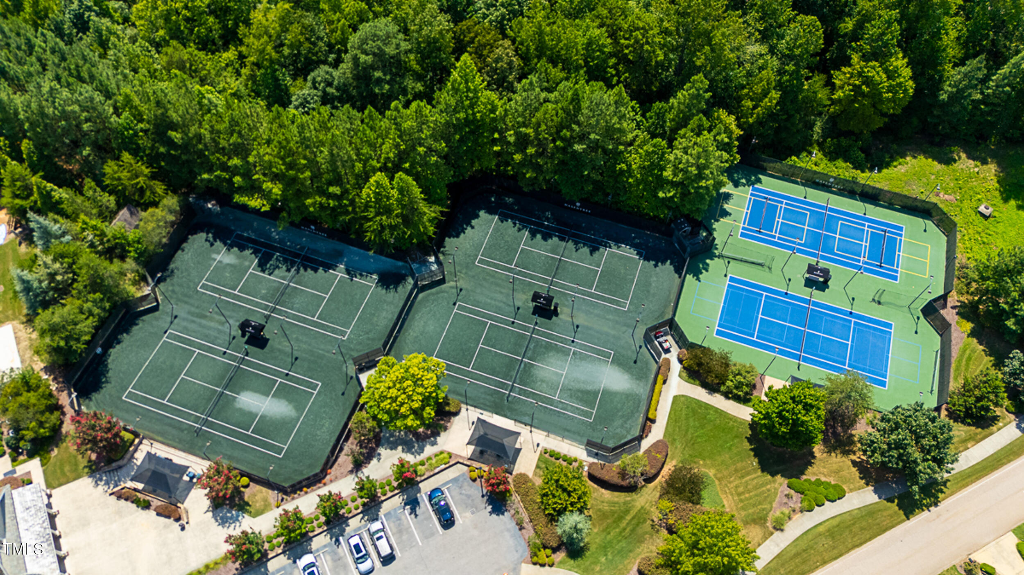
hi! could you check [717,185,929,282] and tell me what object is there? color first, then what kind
blue tennis court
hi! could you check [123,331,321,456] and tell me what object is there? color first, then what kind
green tennis court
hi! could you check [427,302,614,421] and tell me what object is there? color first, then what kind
green tennis court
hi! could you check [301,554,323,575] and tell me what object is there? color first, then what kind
white car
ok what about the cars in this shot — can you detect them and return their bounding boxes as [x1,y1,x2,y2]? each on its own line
[348,536,374,575]
[431,489,455,528]
[371,520,396,561]
[301,554,323,575]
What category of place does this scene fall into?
sports ground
